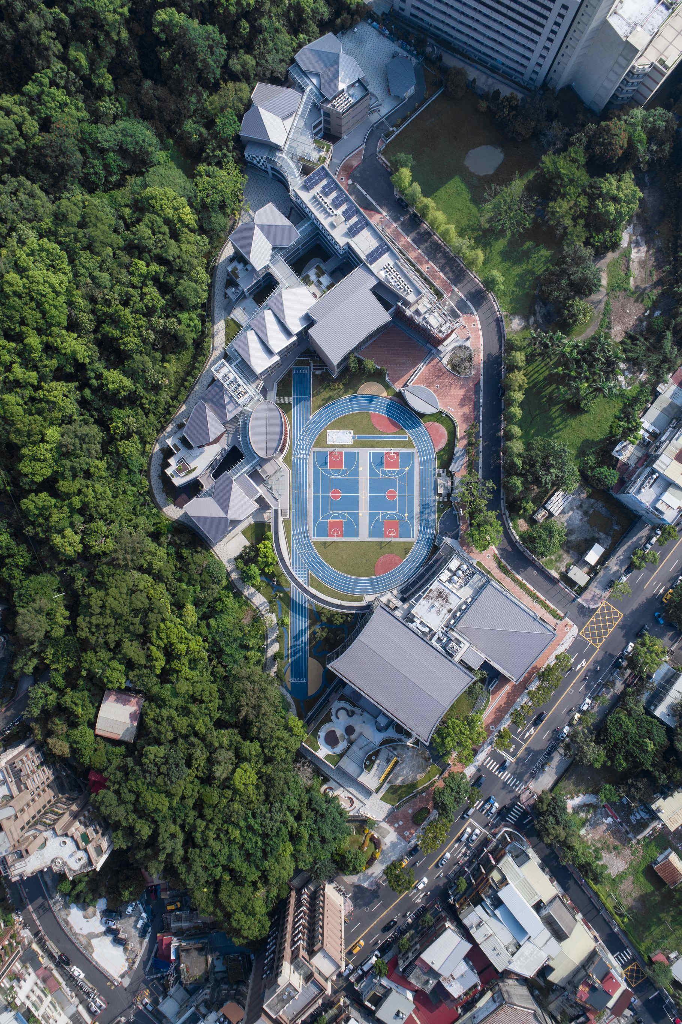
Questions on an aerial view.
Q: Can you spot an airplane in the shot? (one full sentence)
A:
No, this view has no airplane in it.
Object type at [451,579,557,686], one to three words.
building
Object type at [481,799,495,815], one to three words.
vehicle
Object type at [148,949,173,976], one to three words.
house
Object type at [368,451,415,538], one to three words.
basketball court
